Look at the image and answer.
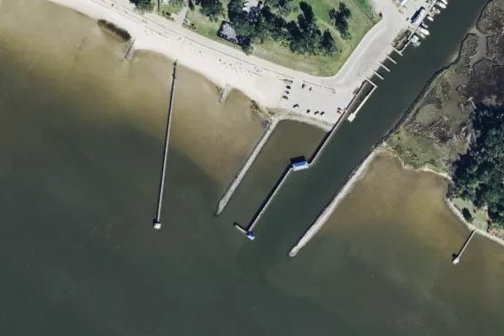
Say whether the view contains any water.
Yes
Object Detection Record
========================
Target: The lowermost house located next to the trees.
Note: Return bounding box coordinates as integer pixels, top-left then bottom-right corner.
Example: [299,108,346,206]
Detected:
[217,19,240,43]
